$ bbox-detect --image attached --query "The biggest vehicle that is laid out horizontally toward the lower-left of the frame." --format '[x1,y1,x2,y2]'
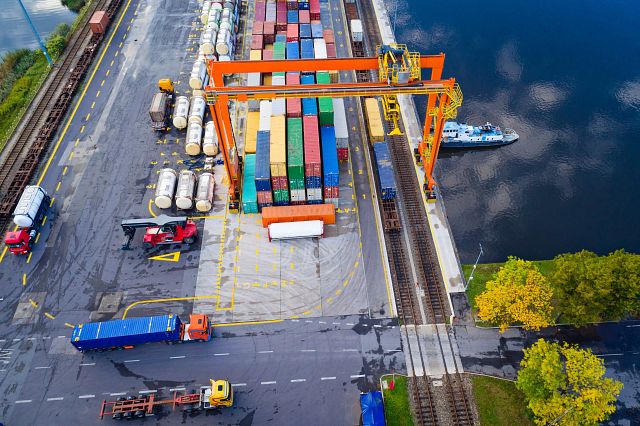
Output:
[70,315,212,354]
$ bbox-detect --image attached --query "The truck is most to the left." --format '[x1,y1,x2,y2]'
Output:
[3,186,52,257]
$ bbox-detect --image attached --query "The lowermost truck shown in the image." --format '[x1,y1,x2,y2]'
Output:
[98,382,231,420]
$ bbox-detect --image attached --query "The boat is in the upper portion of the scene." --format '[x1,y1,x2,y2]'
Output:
[429,117,518,149]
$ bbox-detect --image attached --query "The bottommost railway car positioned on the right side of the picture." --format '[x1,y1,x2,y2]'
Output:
[373,162,399,226]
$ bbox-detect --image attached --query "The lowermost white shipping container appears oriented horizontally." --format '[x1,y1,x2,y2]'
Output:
[268,216,323,242]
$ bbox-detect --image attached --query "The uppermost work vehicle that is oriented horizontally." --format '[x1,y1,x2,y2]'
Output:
[114,217,198,250]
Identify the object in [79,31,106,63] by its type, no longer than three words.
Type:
rail car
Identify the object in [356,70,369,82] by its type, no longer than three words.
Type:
rail car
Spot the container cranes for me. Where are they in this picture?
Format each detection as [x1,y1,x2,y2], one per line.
[197,43,469,217]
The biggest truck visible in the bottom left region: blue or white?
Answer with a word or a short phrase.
blue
